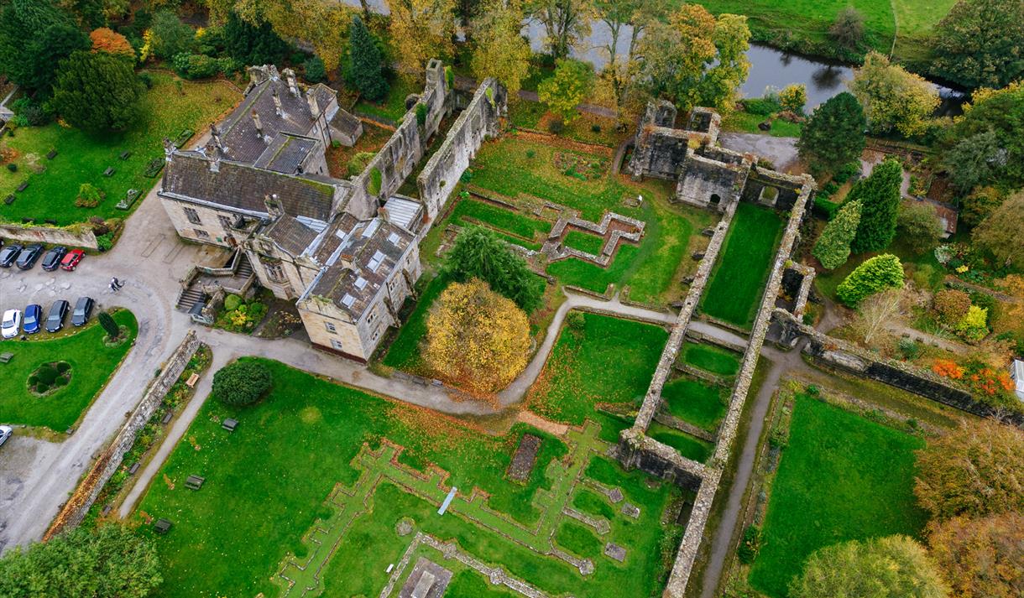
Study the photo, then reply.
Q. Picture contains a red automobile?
Yes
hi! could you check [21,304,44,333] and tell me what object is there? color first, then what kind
blue car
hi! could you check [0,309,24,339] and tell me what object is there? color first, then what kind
white car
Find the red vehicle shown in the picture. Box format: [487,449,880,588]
[58,249,89,273]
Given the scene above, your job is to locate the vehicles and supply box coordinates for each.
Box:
[0,309,24,339]
[0,244,28,270]
[69,295,94,327]
[44,300,69,332]
[0,419,19,448]
[21,304,44,333]
[39,247,72,272]
[58,249,89,273]
[15,245,48,270]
